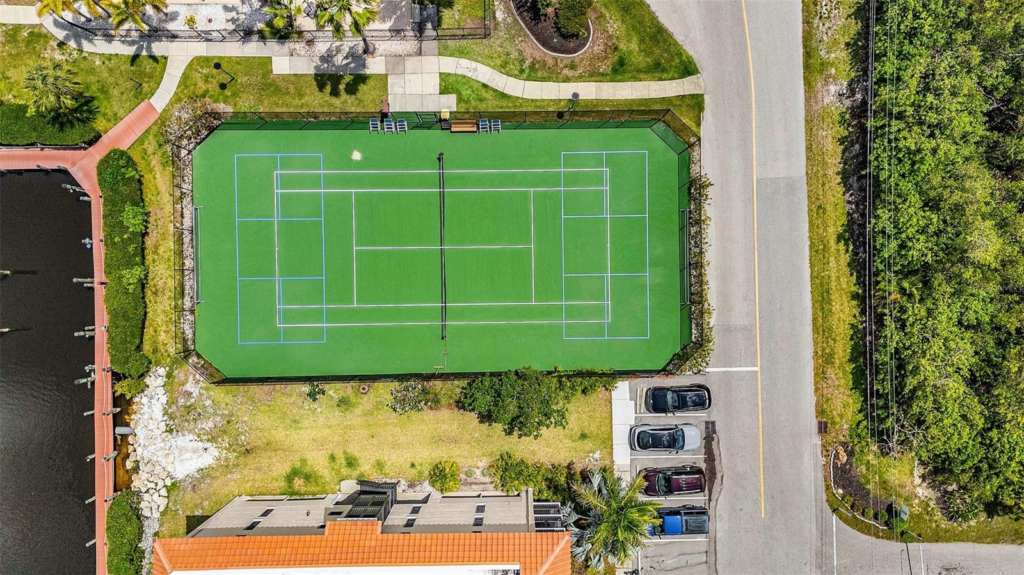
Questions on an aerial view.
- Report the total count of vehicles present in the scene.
4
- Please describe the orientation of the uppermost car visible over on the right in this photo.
from side to side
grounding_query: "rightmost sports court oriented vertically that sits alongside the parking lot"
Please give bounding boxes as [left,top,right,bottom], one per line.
[561,151,649,339]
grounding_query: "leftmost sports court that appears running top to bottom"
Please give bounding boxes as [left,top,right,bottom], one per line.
[235,153,325,344]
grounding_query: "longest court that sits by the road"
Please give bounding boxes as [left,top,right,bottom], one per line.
[191,120,693,378]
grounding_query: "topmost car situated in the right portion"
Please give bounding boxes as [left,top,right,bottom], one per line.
[646,386,714,418]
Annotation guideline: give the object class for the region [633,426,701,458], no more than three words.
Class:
car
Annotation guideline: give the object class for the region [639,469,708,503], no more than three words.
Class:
car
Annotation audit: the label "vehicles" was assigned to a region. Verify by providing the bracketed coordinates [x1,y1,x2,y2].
[638,507,710,541]
[633,426,701,458]
[646,386,714,418]
[639,469,708,503]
